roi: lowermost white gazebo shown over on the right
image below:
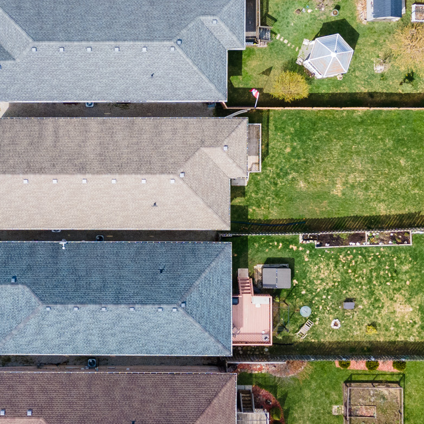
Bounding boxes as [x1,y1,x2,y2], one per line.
[303,33,354,78]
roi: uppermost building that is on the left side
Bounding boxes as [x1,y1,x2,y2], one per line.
[0,0,246,103]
